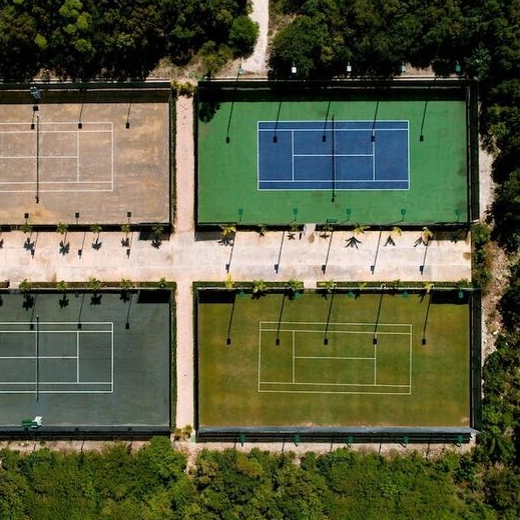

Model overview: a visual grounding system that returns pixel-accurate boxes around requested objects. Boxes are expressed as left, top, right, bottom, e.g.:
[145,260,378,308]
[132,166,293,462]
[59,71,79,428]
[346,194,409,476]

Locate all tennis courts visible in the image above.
[200,289,472,426]
[0,290,169,426]
[0,89,169,224]
[198,87,469,223]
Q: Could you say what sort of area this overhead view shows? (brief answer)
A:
sports ground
